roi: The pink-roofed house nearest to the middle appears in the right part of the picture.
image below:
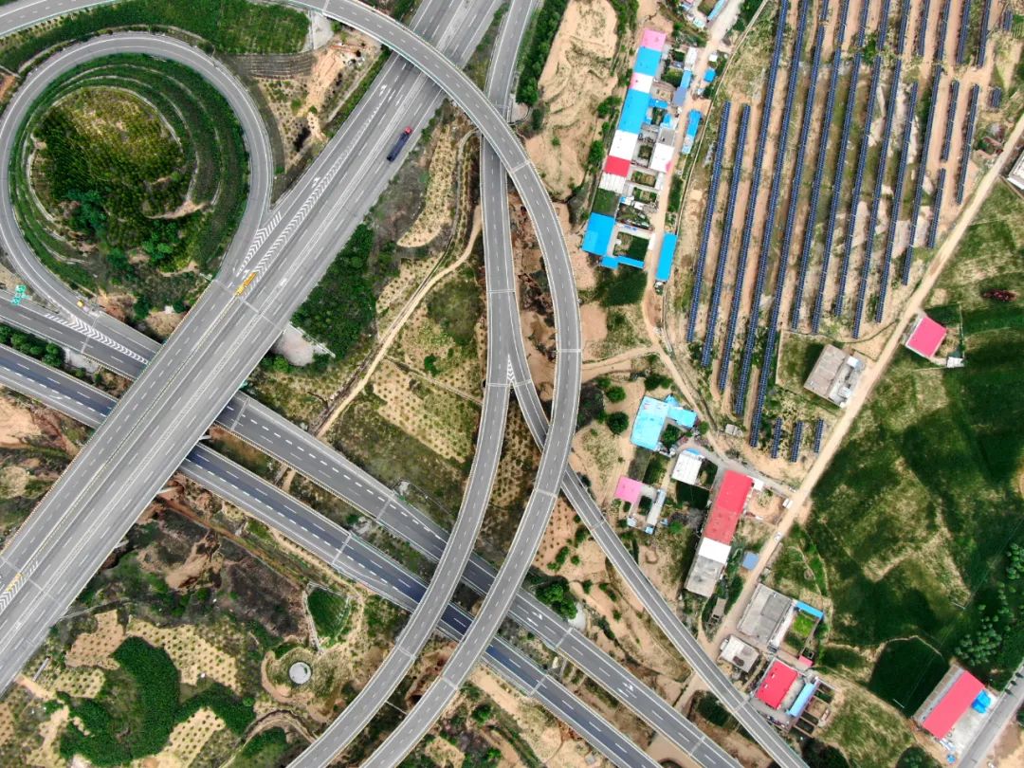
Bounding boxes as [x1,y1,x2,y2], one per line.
[614,476,643,503]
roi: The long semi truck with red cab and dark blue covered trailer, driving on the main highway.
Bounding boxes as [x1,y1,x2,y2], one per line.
[385,124,414,161]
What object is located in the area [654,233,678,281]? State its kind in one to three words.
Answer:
shed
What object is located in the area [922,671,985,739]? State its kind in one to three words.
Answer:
building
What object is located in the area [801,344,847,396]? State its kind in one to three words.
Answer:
house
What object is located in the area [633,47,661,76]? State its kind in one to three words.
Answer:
house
